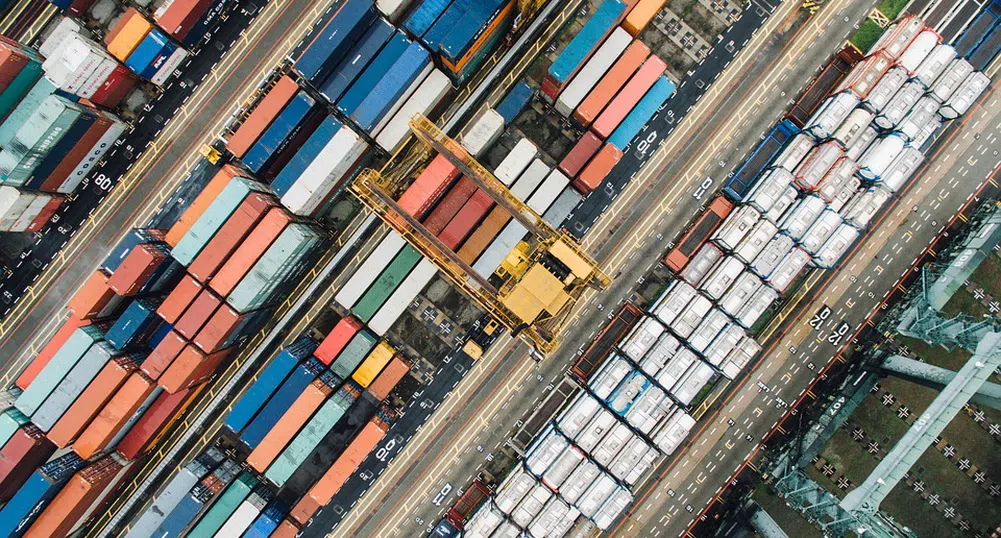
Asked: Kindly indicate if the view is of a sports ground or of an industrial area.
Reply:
industrial area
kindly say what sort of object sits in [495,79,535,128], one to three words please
shipping container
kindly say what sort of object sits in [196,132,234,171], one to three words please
truck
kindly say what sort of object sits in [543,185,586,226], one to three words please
shipping container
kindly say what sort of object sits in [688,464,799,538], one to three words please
container crane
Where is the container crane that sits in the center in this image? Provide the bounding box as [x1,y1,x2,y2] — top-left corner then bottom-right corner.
[350,109,611,356]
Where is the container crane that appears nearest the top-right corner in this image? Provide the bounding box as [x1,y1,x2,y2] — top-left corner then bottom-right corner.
[882,173,1001,353]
